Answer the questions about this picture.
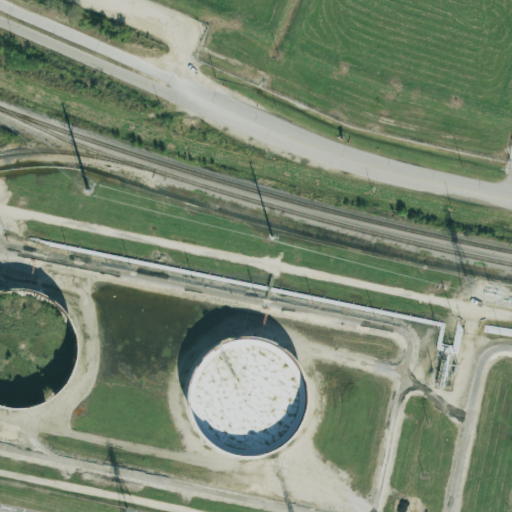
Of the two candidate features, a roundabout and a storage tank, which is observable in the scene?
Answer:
storage tank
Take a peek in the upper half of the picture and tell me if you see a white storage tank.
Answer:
No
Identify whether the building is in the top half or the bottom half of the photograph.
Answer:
bottom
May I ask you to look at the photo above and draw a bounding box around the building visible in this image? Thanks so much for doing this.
[436,348,458,392]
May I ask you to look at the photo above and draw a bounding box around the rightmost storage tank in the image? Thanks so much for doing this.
[186,336,310,461]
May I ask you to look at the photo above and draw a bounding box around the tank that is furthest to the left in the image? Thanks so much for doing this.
[0,287,79,412]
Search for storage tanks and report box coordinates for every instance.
[186,336,310,461]
[0,287,79,412]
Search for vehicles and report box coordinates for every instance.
[188,64,198,75]
[470,298,482,306]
